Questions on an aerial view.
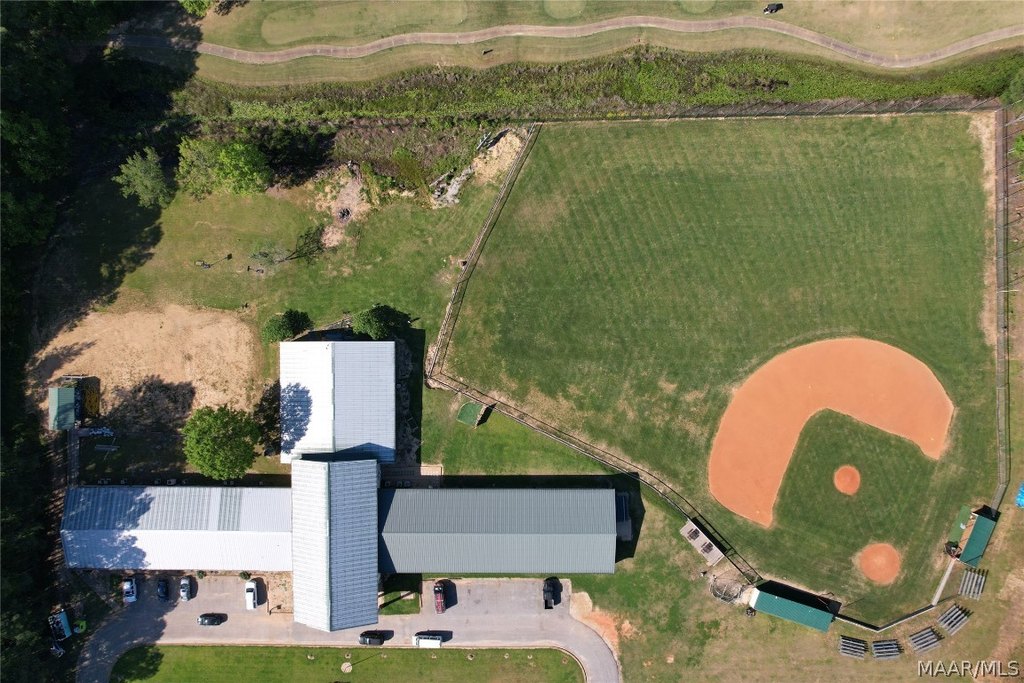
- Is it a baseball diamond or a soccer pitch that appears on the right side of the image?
baseball diamond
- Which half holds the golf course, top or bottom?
top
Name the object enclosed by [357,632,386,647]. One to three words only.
car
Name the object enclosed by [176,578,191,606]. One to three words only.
car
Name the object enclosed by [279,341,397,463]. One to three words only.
building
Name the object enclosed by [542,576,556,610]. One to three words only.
vehicle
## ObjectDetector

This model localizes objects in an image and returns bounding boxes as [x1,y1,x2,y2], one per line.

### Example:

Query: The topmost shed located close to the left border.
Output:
[49,387,83,431]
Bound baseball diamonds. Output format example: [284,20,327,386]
[431,112,998,628]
